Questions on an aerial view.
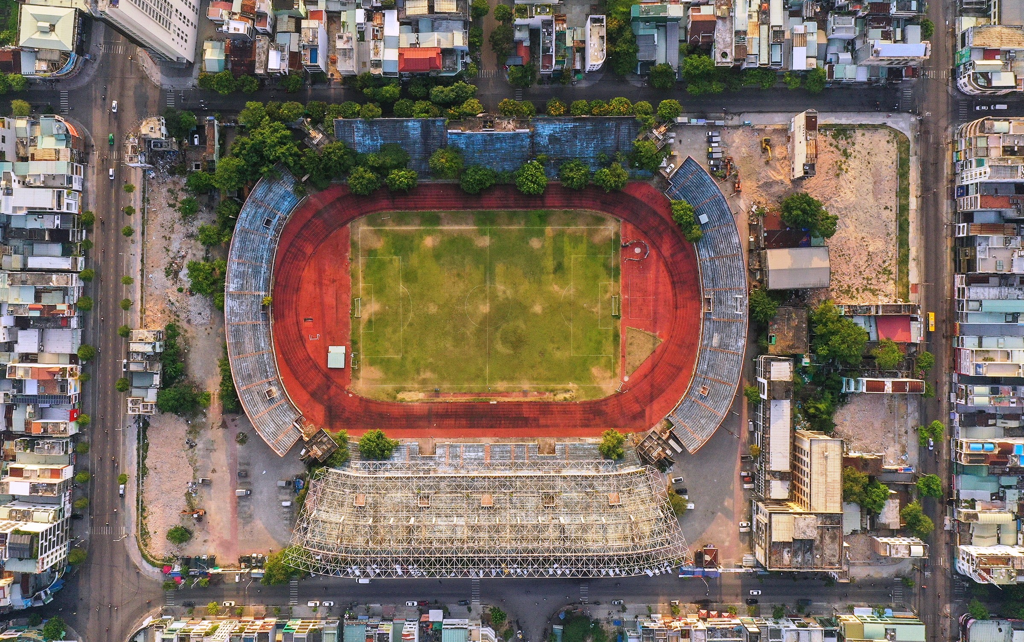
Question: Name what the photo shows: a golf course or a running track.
running track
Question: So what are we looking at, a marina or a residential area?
residential area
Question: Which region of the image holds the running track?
center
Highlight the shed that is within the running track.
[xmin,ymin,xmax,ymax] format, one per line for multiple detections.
[326,346,345,369]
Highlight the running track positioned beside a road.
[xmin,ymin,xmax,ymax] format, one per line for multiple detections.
[274,183,703,438]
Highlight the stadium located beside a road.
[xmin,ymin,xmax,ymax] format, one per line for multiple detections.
[223,118,749,578]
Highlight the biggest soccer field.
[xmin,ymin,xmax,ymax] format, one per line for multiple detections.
[351,210,620,402]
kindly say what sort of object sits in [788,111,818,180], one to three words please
house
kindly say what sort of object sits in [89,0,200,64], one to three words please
building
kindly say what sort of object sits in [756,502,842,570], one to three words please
building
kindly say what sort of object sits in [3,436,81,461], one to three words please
house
